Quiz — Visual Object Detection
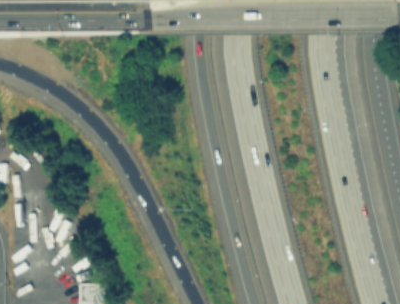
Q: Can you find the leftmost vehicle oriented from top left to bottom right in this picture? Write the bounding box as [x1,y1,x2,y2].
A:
[10,150,34,172]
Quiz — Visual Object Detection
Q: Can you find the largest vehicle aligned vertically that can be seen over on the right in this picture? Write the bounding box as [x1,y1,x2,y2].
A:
[250,146,262,166]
